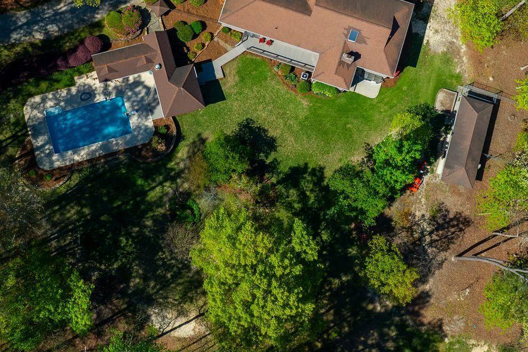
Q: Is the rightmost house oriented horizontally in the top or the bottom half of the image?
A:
top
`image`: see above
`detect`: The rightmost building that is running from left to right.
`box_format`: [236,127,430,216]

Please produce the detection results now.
[218,0,415,92]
